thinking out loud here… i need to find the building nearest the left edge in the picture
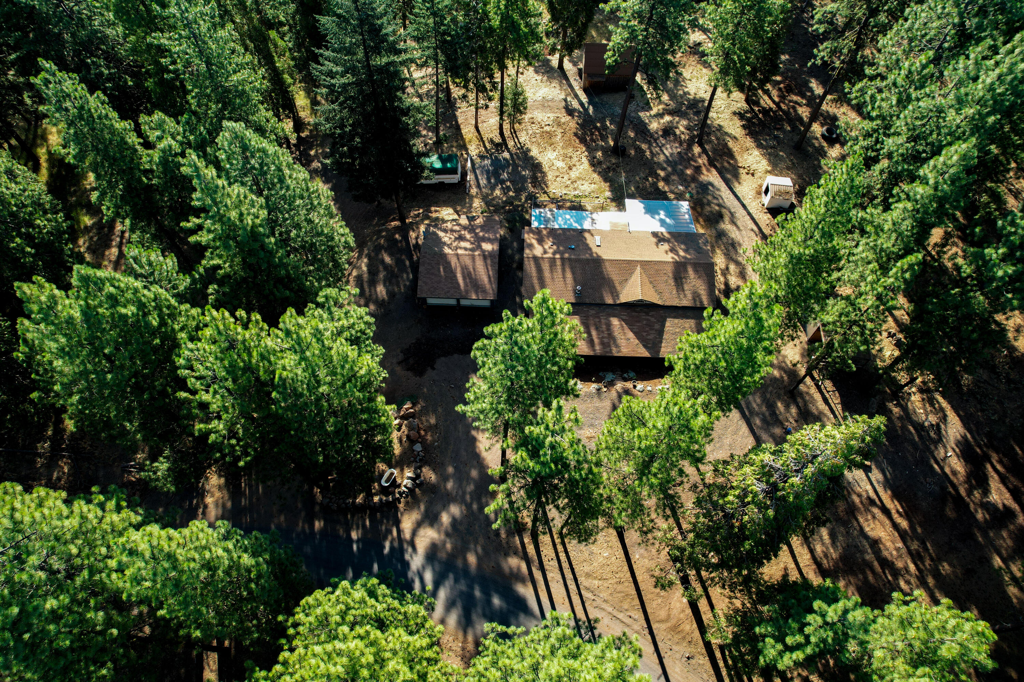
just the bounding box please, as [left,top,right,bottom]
[417,216,501,312]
